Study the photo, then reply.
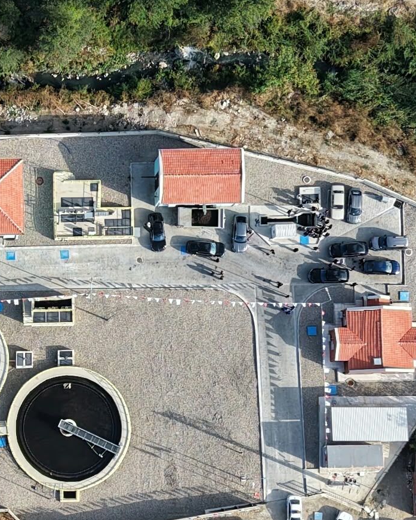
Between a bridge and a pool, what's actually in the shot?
bridge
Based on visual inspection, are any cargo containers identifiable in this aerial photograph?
Yes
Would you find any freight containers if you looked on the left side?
No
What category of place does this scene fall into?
industrial area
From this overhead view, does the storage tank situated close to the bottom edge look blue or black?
black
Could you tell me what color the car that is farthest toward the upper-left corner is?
black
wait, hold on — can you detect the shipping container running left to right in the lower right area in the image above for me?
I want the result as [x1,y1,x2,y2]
[319,445,390,473]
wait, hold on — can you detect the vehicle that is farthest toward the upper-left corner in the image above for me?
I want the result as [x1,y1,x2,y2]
[147,212,168,253]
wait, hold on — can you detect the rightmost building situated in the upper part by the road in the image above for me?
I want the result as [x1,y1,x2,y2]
[151,148,248,216]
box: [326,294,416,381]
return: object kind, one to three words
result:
building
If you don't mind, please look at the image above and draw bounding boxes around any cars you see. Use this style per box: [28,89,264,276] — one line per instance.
[285,496,305,520]
[329,240,369,258]
[147,212,168,253]
[336,510,354,520]
[368,233,409,251]
[361,258,400,275]
[308,266,349,284]
[231,215,251,253]
[185,240,225,257]
[329,186,347,220]
[345,187,365,224]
